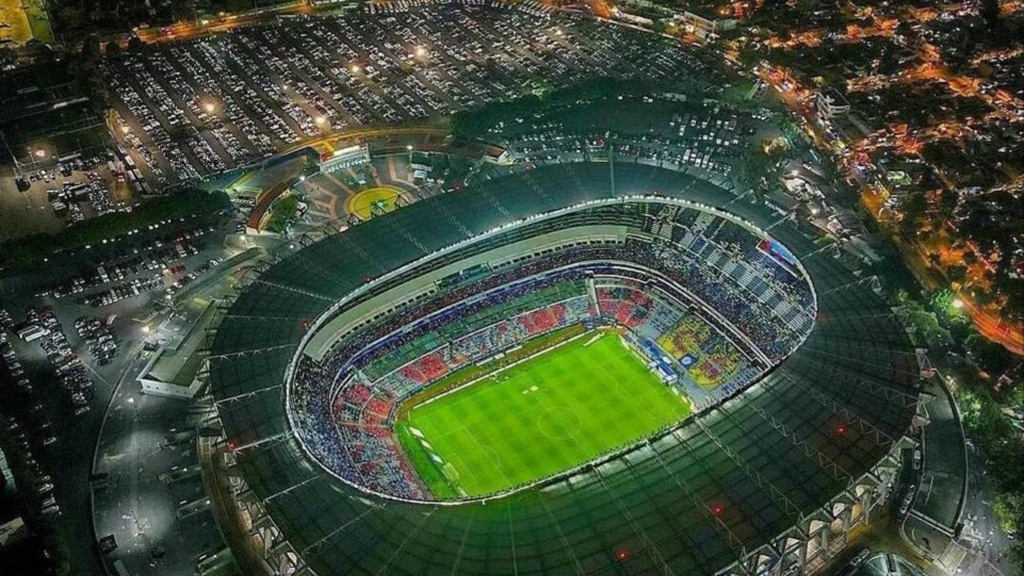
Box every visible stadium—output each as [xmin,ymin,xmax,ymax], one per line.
[203,153,928,576]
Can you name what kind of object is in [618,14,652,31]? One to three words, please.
building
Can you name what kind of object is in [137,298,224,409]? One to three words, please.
building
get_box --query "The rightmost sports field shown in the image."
[406,329,699,498]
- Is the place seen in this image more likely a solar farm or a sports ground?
sports ground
